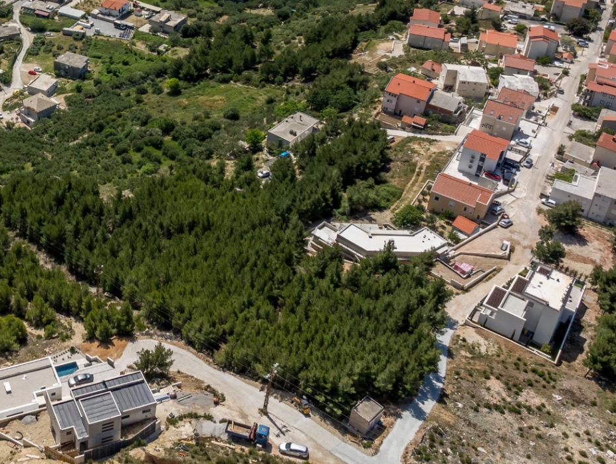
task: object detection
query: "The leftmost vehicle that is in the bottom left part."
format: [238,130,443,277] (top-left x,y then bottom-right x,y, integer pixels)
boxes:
[70,369,92,383]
